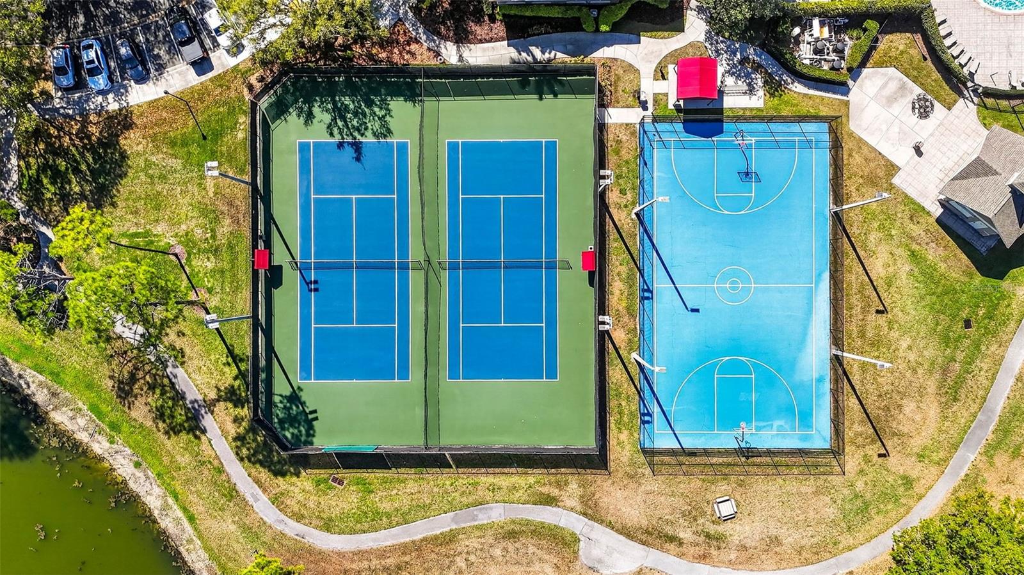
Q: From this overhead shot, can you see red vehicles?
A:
No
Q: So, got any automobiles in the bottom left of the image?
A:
No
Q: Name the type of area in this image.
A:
sports ground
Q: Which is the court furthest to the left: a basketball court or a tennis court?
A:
tennis court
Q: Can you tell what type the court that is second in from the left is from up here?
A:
tennis court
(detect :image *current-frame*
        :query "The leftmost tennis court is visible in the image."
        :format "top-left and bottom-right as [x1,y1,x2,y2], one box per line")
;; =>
[260,75,426,446]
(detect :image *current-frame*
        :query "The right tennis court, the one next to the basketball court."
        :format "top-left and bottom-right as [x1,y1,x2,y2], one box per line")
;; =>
[426,75,594,446]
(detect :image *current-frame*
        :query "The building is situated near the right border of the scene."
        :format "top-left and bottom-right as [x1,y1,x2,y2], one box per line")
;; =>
[926,123,1024,248]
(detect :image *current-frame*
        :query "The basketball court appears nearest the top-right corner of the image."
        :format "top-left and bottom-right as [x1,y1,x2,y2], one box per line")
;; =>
[641,122,830,449]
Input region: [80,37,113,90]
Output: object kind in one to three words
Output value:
car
